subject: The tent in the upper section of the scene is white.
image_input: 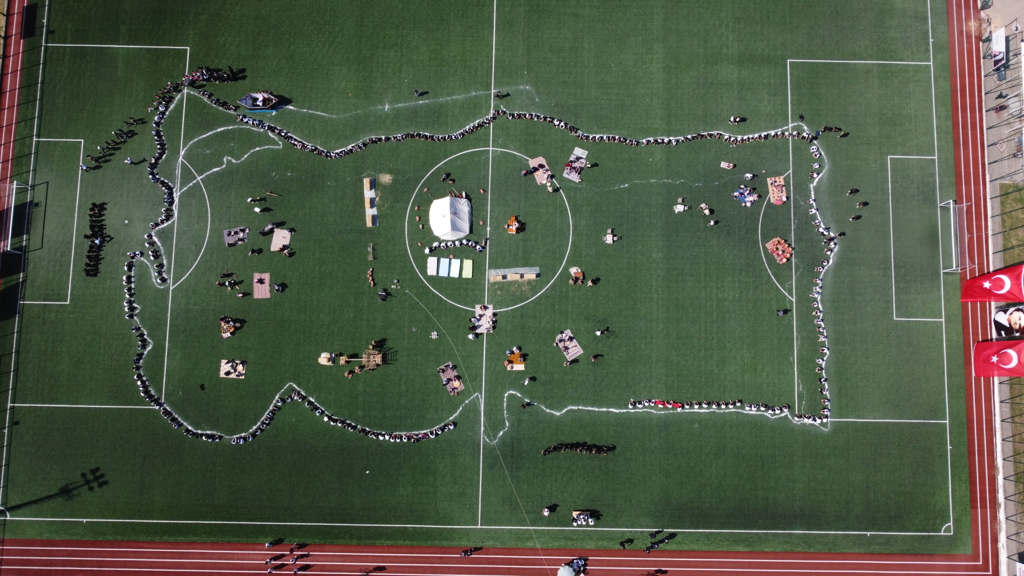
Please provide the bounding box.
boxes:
[422,192,481,243]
